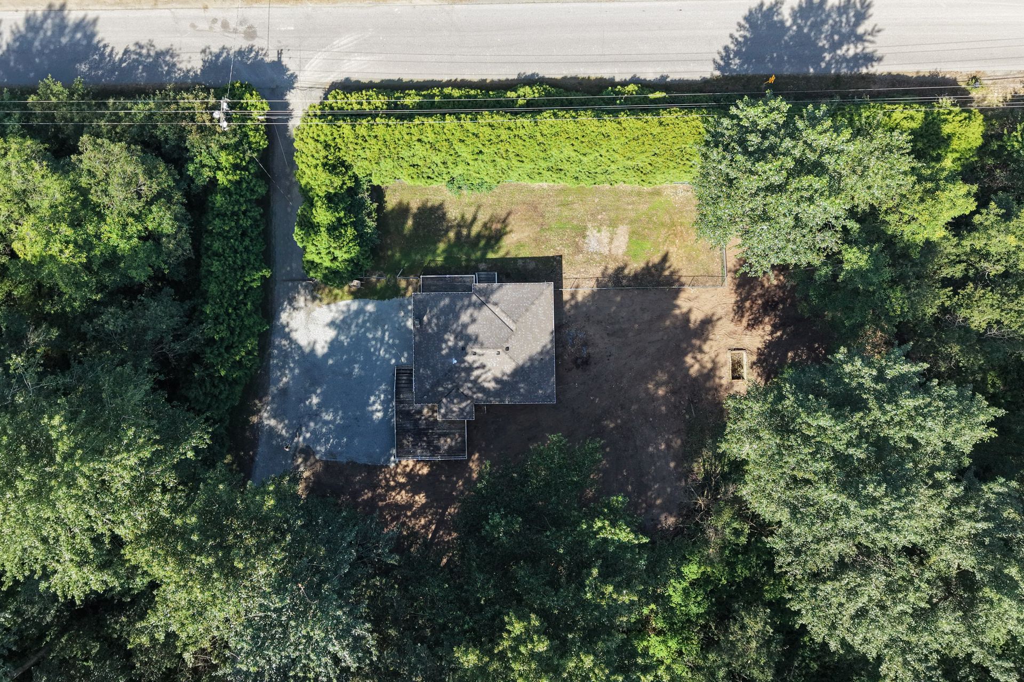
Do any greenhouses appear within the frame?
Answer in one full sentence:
No, there isn't any greenhouse down there.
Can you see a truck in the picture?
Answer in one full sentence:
No, the photo shows no truck.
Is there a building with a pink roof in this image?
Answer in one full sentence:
No, the frame has no building with a pink roof in it.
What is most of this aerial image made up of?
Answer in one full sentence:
The largest share of the image is taken up by trees.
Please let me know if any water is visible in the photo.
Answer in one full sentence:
No, the scene doesn't show any water.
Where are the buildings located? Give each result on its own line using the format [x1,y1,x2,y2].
[411,281,556,421]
